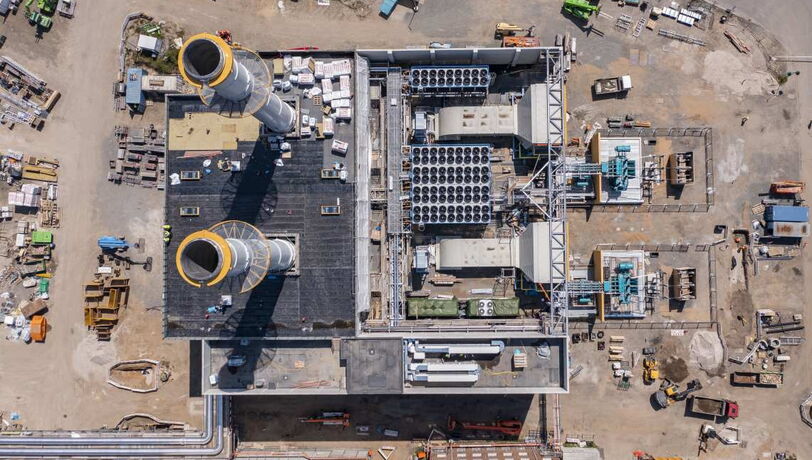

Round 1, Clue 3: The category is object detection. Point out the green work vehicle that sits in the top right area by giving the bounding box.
[566,0,615,22]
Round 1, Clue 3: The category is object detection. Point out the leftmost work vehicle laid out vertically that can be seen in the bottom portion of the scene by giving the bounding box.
[641,347,657,379]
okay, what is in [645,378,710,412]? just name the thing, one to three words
work vehicle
